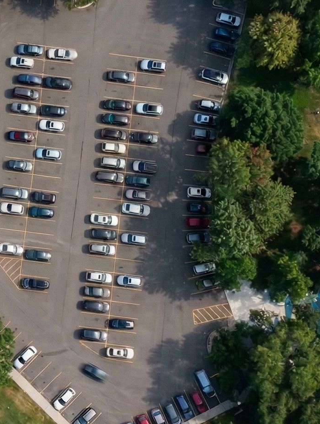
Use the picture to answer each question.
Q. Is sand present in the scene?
No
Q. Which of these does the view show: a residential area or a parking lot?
parking lot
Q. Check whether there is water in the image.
No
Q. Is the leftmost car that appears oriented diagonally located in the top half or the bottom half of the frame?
bottom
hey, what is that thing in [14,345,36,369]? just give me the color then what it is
white car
